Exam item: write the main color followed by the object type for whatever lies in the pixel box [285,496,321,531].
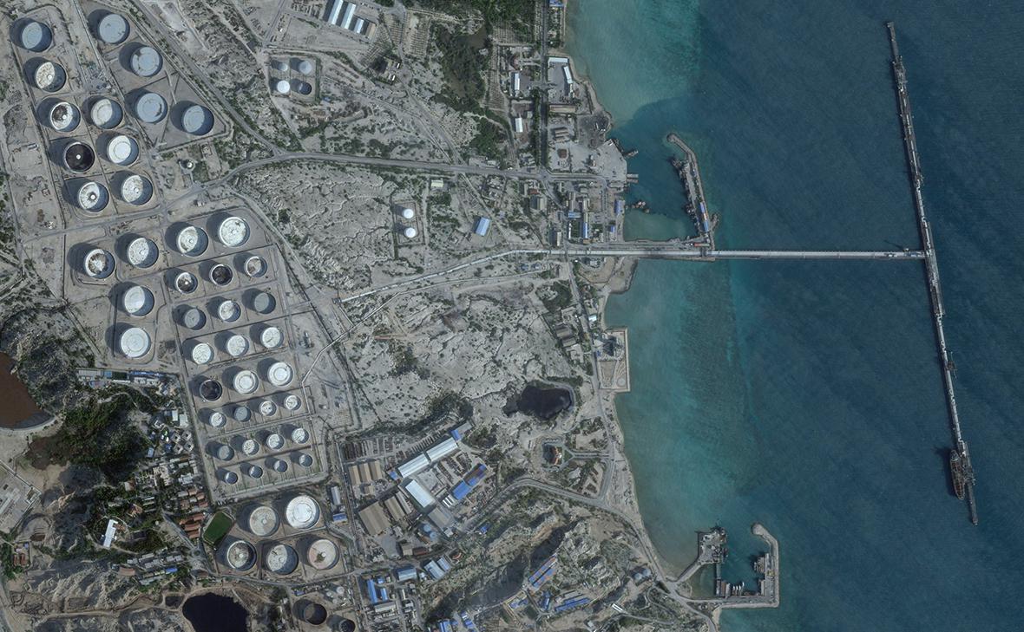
white storage tank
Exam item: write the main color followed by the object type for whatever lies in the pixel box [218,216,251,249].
white storage tank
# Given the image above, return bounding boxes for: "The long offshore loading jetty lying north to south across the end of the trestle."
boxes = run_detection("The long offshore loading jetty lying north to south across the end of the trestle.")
[886,23,977,527]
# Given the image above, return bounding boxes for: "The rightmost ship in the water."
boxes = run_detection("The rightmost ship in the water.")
[951,450,965,500]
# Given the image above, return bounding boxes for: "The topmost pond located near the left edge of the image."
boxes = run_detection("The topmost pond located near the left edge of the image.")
[0,349,53,429]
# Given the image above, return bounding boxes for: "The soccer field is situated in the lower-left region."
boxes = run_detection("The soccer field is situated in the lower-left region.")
[201,509,235,547]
